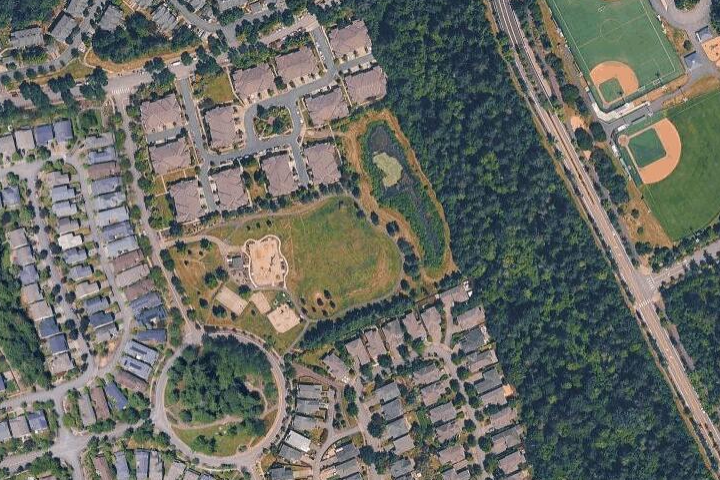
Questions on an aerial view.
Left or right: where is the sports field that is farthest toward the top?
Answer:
right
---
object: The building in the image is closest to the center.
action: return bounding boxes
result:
[307,145,340,183]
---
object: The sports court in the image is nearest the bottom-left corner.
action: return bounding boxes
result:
[216,286,247,315]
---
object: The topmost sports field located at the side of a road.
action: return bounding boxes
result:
[546,0,684,112]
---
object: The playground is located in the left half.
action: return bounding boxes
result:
[244,234,287,289]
